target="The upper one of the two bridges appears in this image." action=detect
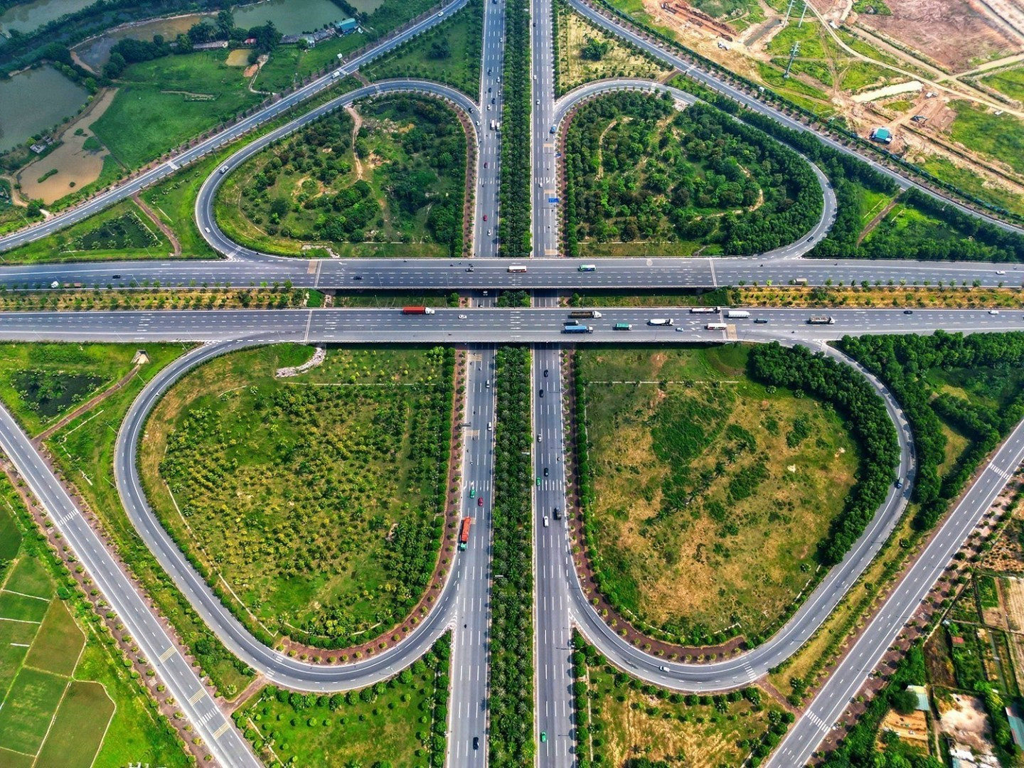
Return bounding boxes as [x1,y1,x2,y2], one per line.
[310,256,721,293]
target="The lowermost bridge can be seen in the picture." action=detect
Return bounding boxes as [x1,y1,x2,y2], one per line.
[303,307,728,346]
